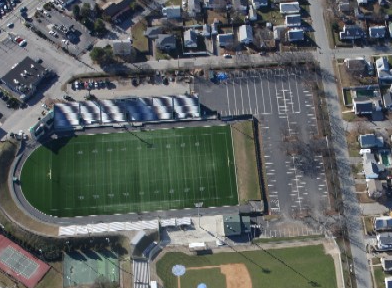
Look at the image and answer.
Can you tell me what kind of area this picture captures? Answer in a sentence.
This image shows a sports ground.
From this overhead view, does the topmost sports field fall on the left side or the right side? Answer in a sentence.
You can find the topmost sports field on the left side of the picture.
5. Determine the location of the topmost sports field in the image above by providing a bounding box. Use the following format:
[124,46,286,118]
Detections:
[20,125,239,218]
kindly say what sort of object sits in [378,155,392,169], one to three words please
swimming pool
